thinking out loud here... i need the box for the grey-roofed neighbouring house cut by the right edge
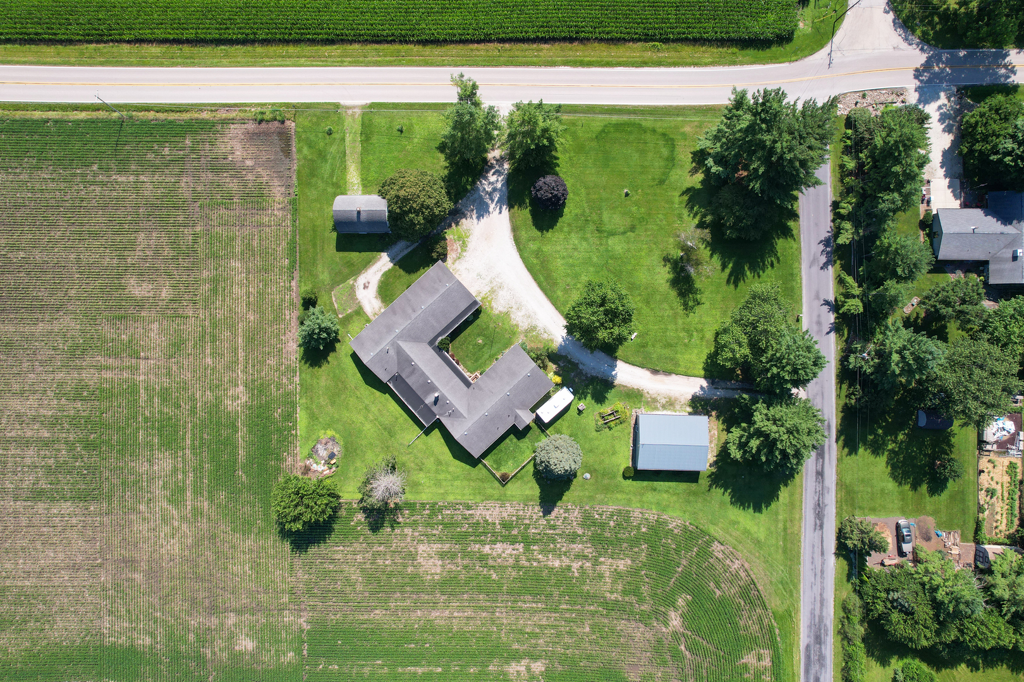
[930,190,1024,284]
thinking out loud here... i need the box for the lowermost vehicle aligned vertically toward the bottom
[896,521,914,557]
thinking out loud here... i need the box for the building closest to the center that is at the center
[348,259,556,459]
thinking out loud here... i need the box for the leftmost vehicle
[537,386,572,421]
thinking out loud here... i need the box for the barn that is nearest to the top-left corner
[332,195,390,234]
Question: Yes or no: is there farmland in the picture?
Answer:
Yes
